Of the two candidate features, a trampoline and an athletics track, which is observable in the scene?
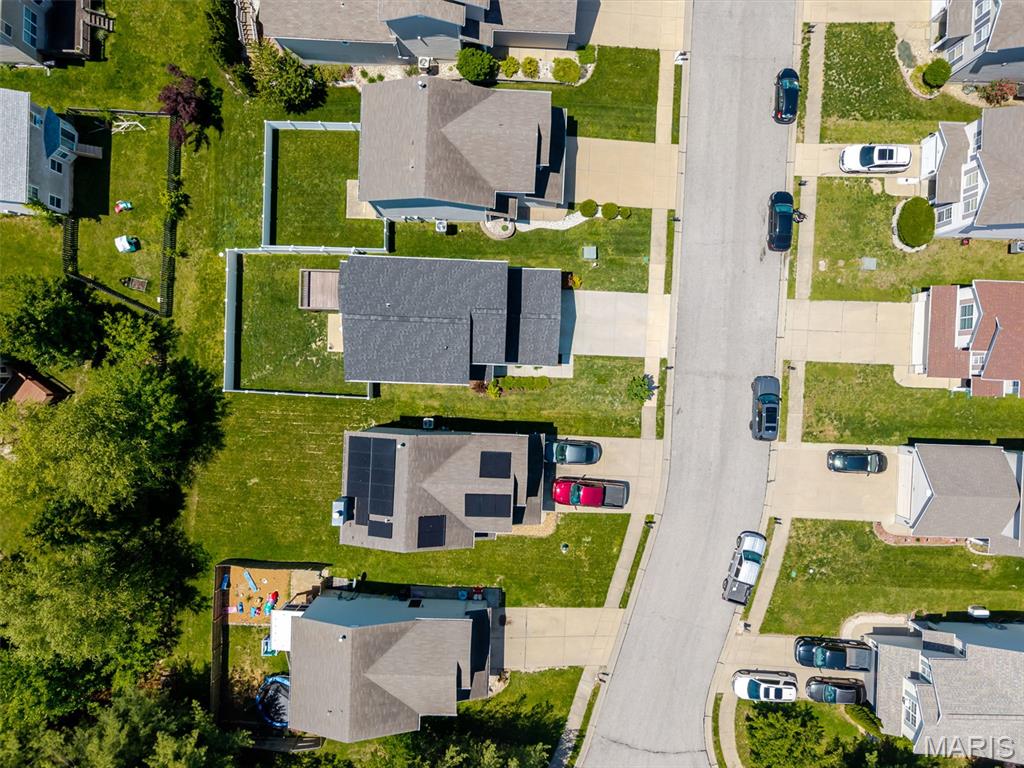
trampoline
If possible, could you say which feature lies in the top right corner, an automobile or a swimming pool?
automobile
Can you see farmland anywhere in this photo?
No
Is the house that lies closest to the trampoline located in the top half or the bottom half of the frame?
bottom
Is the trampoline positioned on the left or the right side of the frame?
left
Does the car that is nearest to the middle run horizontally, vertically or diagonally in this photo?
horizontally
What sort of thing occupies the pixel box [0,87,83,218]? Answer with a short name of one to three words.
house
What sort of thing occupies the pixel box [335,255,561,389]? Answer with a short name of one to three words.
house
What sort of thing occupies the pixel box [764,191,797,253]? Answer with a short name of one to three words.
car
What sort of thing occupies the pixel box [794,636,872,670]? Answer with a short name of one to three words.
truck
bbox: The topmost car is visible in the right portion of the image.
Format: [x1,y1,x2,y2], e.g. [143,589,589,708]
[771,69,802,127]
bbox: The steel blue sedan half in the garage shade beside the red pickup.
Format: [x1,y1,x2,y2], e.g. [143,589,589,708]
[545,438,602,466]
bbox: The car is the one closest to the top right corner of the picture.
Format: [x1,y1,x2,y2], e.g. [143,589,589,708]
[838,142,911,175]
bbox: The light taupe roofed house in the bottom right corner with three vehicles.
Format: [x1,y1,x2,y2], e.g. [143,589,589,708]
[863,619,1024,761]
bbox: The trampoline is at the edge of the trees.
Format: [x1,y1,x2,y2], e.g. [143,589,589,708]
[251,674,294,735]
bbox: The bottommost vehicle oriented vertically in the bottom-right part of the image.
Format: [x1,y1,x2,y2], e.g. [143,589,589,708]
[724,532,765,606]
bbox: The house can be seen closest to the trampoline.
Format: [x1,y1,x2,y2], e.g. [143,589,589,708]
[288,599,492,745]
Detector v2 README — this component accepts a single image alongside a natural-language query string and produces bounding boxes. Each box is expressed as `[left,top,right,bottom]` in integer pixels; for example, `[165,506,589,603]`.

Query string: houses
[0,0,45,78]
[335,255,561,389]
[288,599,492,745]
[863,619,1024,761]
[357,72,567,224]
[911,280,1024,399]
[331,426,546,554]
[894,443,1024,563]
[0,87,83,218]
[256,0,578,70]
[928,0,1024,87]
[918,105,1024,245]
